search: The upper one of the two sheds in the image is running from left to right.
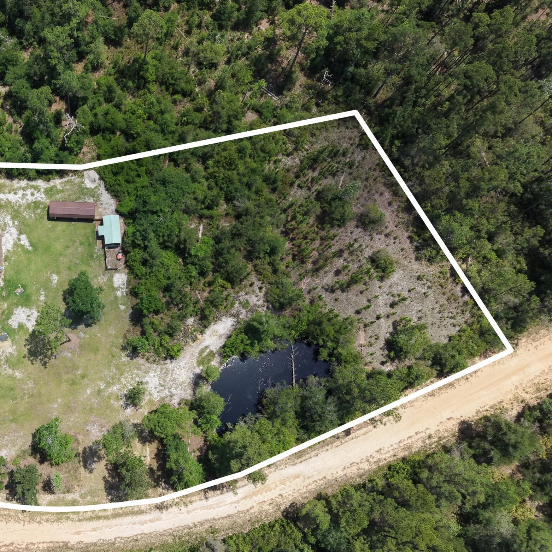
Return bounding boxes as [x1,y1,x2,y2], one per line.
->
[50,201,96,219]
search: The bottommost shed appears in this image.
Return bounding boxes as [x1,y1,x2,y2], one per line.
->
[95,214,121,251]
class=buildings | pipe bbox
[95,214,121,251]
[50,201,96,219]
